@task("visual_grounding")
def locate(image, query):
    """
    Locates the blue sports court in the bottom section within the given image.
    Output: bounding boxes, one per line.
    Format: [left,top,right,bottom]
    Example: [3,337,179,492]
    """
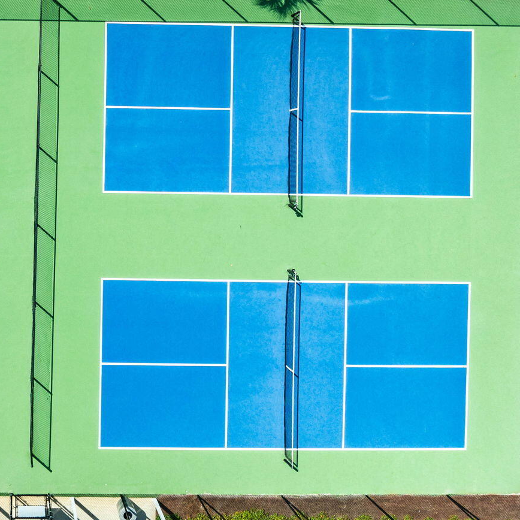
[101,279,470,451]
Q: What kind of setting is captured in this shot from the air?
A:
sports ground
